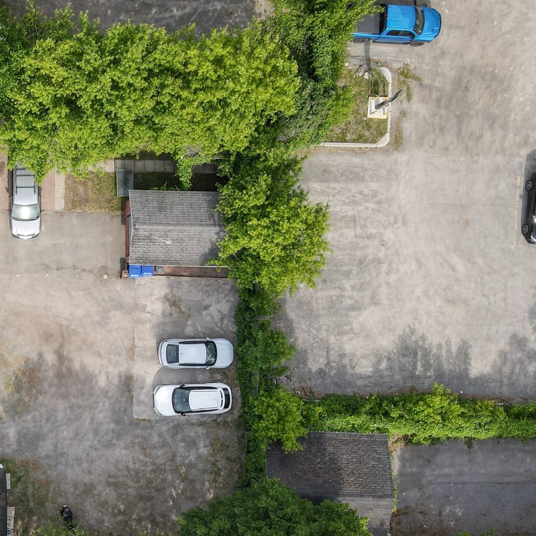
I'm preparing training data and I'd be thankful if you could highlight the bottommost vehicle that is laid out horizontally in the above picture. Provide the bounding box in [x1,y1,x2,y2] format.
[152,381,231,418]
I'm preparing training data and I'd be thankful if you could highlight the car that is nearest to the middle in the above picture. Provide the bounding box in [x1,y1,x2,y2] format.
[156,336,232,371]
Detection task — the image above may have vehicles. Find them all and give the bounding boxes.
[156,336,232,371]
[7,159,43,238]
[344,3,443,47]
[520,173,536,245]
[152,381,231,418]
